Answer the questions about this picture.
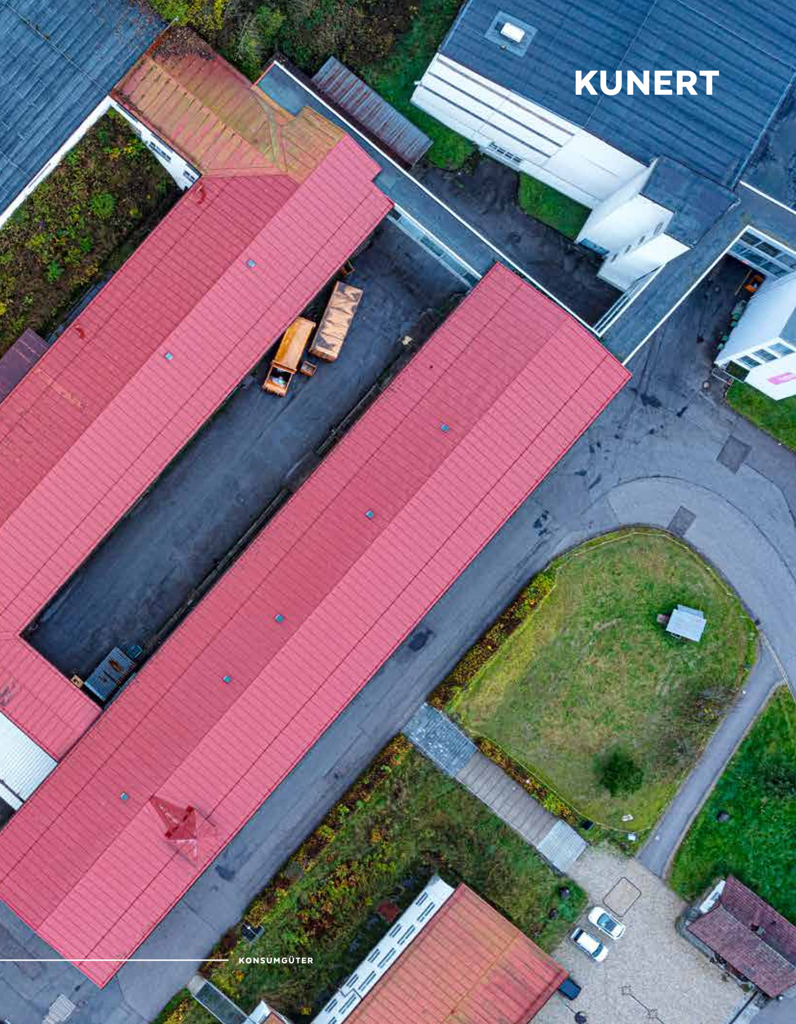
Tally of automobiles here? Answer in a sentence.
In total, 3 automobiles can be seen.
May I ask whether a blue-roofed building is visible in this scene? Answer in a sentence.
Yes, a blue-roofed building appears in the view.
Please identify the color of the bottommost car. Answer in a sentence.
From above, the bottommost car appears blue.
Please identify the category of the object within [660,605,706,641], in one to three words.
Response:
shed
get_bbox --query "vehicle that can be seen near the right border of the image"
[738,268,772,294]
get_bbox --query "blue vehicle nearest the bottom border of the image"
[557,976,585,1002]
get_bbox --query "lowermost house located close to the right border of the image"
[678,875,796,999]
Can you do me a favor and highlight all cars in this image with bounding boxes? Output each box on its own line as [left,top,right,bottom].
[591,909,629,942]
[557,976,585,1002]
[573,930,611,963]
